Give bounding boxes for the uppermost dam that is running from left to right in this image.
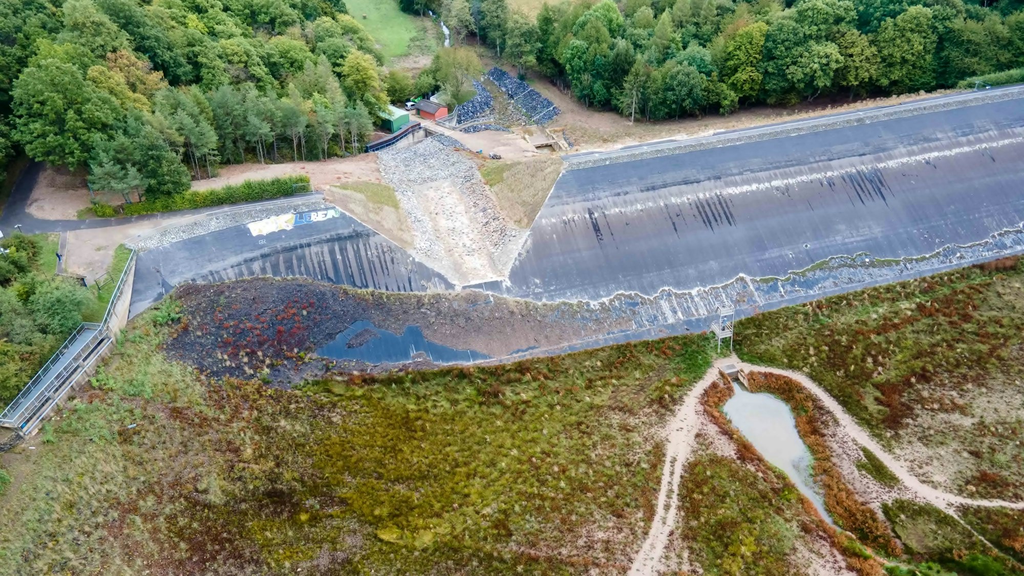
[122,88,1024,365]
